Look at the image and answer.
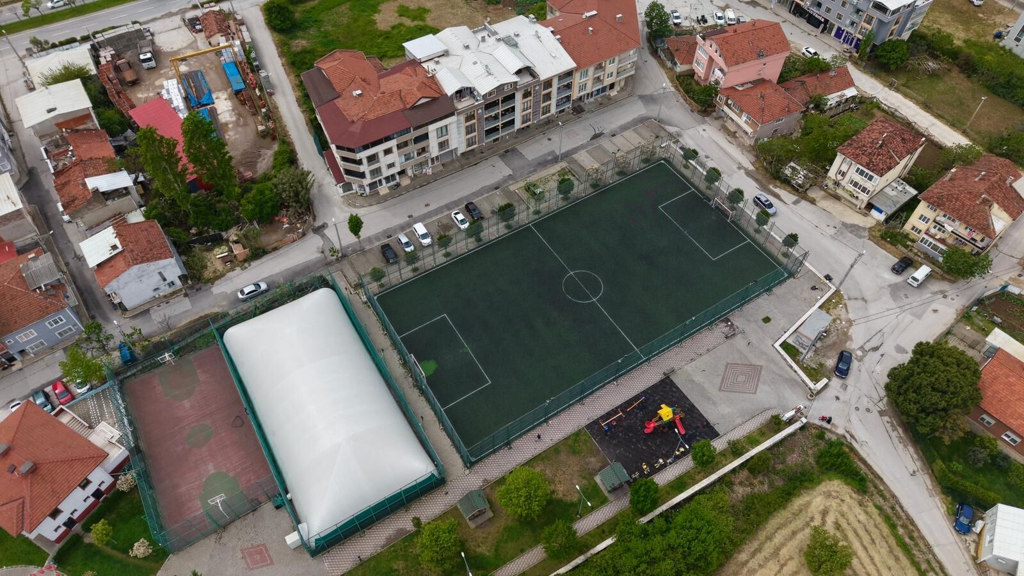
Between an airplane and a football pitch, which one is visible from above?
football pitch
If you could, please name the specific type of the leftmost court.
basketball court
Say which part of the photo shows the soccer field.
center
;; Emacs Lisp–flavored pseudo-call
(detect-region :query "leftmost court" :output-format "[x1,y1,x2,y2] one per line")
[126,350,278,547]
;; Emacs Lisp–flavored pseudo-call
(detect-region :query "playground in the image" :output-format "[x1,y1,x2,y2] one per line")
[587,378,719,488]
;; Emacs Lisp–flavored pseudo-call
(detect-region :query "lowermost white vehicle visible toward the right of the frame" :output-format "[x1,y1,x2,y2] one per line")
[907,262,933,287]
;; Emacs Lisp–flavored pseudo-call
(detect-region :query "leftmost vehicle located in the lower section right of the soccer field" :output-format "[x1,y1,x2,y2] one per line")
[834,349,852,378]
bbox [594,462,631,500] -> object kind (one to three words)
gazebo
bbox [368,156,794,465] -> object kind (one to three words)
soccer field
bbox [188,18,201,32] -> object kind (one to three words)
vehicle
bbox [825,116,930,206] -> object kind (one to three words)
house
